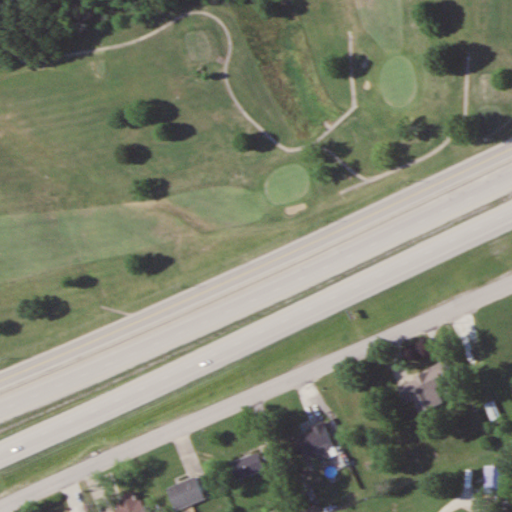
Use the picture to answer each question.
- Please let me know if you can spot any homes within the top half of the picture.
No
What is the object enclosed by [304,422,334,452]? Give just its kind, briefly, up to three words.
house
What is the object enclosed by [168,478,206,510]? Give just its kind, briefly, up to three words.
house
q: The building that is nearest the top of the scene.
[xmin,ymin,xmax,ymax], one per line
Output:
[416,366,446,410]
